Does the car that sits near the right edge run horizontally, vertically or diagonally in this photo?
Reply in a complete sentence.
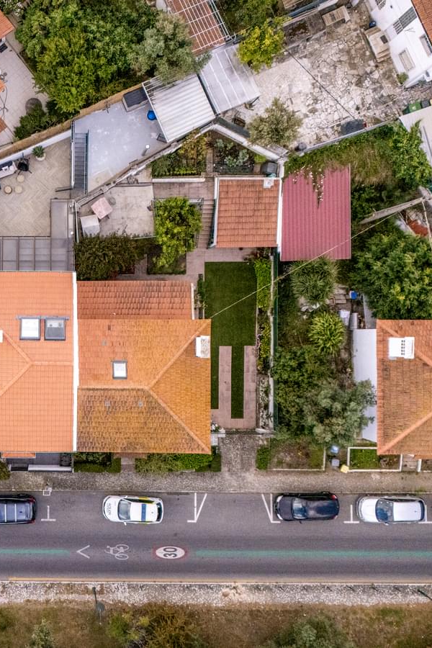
The car that sits near the right edge runs horizontally in the image.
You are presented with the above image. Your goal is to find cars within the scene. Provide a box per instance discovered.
[0,492,37,522]
[356,492,428,526]
[273,490,339,524]
[102,493,163,525]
